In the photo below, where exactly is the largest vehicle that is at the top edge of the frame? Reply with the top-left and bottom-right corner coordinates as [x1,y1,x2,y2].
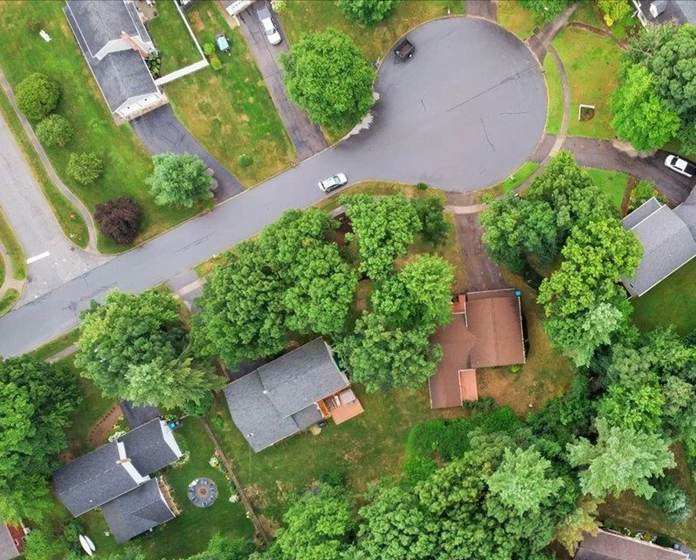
[255,1,280,44]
